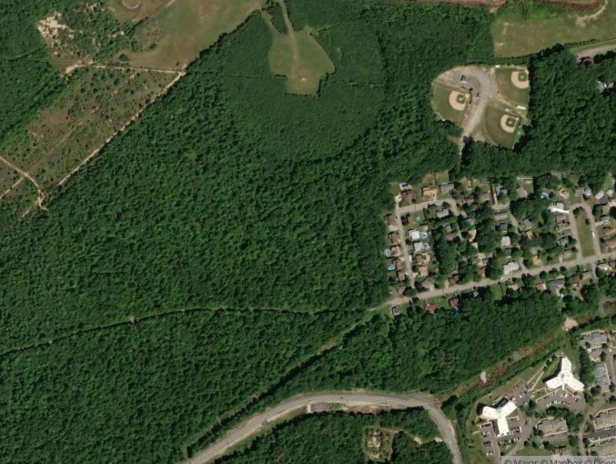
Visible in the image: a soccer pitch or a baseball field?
baseball field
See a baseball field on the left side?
No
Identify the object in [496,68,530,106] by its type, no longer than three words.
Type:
baseball field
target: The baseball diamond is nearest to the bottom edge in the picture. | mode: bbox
[484,107,518,149]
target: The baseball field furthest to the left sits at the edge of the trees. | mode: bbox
[432,85,469,124]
